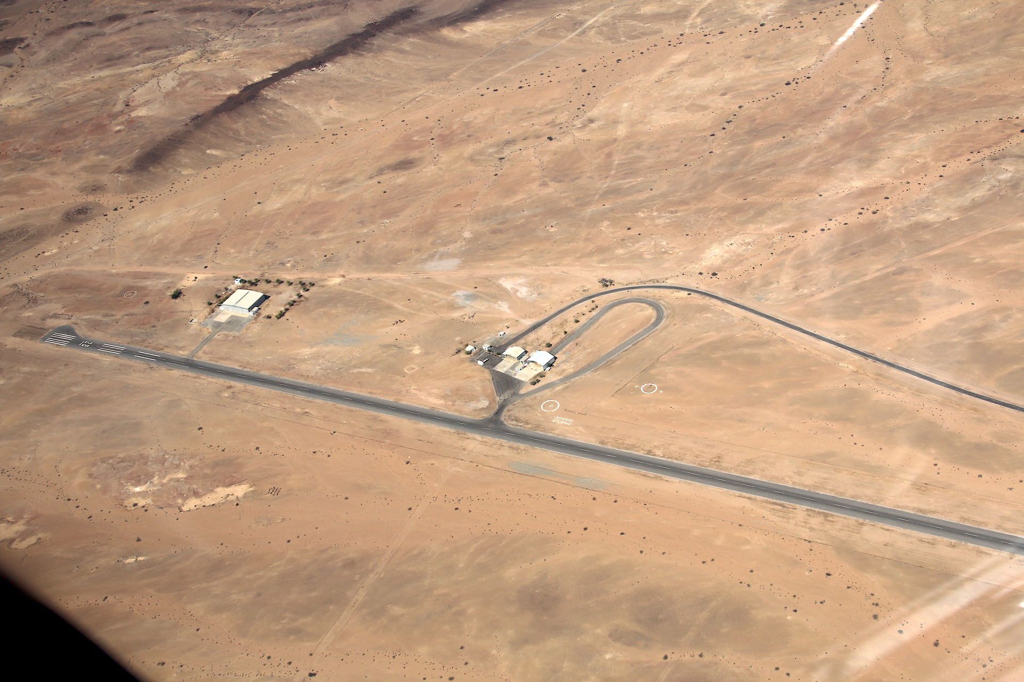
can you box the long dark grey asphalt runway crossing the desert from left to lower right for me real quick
[43,330,1024,555]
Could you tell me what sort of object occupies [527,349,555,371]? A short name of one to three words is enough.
hangar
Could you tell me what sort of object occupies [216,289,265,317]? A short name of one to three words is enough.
hangar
